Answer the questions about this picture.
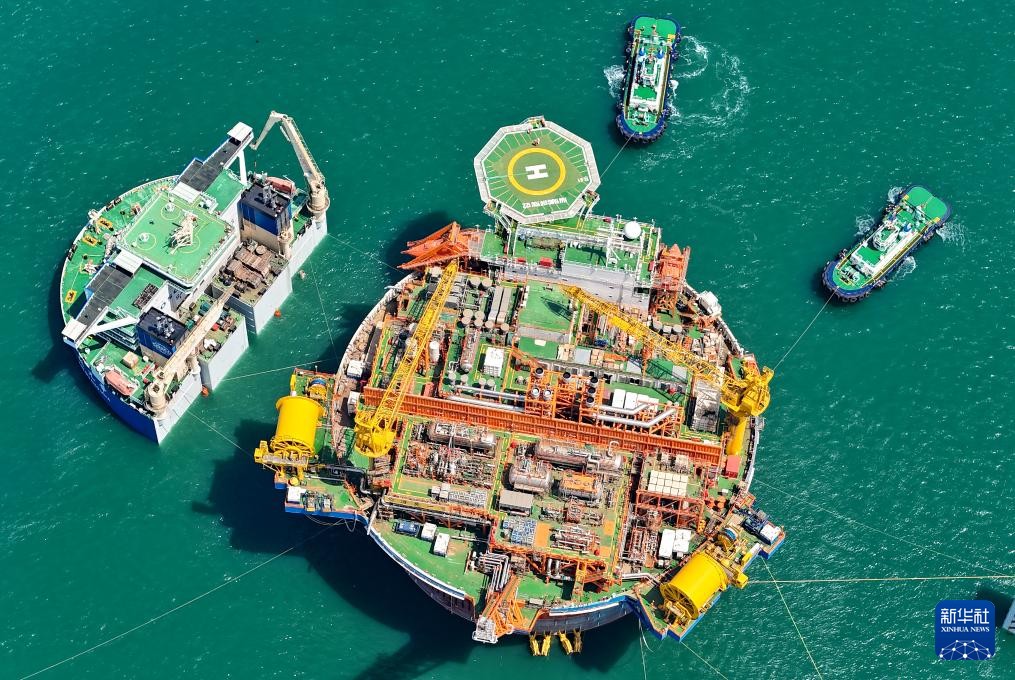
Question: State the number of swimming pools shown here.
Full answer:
I count no swimming pools.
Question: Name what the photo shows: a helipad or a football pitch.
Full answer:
The one in the frame is a helipad.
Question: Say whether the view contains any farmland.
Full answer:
No, no farmland is visible.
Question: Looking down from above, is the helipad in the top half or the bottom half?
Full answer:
It is in the top half that the helipad appears.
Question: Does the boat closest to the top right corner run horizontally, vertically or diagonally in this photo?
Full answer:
From this overhead view, the boat closest to the top right corner appears to run diagonally.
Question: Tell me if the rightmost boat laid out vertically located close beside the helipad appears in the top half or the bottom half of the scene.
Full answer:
It is in the top half that the rightmost boat laid out vertically located close beside the helipad appears.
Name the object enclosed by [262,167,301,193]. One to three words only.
boat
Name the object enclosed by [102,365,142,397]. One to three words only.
boat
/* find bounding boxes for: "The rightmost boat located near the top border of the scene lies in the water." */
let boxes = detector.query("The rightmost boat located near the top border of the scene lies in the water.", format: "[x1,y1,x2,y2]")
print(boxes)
[617,16,677,144]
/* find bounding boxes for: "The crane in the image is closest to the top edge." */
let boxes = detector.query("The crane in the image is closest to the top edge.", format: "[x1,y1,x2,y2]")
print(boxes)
[251,107,330,216]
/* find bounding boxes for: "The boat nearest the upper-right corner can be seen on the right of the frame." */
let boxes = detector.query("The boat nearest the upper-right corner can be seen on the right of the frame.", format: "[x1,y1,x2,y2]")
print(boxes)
[823,186,956,305]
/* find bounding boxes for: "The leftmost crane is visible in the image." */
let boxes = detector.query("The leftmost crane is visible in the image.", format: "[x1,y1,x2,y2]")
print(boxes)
[143,287,245,408]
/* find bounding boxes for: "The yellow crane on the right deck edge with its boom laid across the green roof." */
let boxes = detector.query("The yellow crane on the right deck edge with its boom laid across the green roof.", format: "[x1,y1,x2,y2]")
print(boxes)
[558,282,779,458]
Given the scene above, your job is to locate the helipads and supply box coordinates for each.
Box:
[474,112,604,239]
